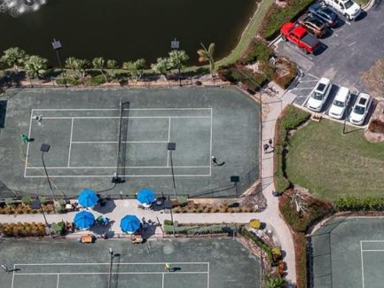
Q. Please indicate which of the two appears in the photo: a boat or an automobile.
automobile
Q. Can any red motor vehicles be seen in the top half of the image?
Yes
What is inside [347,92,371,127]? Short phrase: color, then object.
white car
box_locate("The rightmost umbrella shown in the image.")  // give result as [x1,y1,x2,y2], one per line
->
[137,192,156,209]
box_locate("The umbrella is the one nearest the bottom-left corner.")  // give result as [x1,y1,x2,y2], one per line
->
[74,214,96,233]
